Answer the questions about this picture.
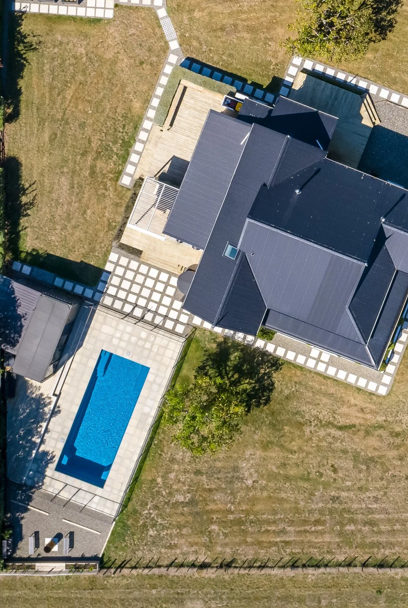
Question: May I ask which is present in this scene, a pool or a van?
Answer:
pool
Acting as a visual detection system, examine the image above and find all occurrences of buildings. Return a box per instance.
[163,95,408,373]
[0,274,83,384]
